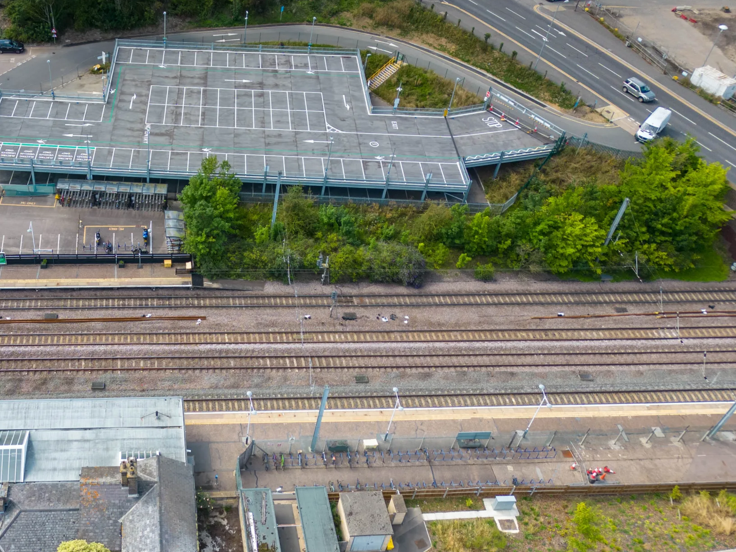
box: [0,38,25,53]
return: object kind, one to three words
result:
car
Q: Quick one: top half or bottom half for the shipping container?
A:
top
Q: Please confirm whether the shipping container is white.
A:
Yes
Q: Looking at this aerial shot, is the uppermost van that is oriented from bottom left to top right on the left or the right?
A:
right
